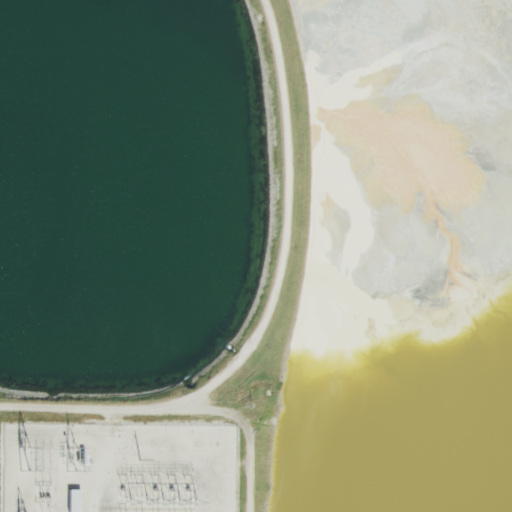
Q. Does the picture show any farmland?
No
